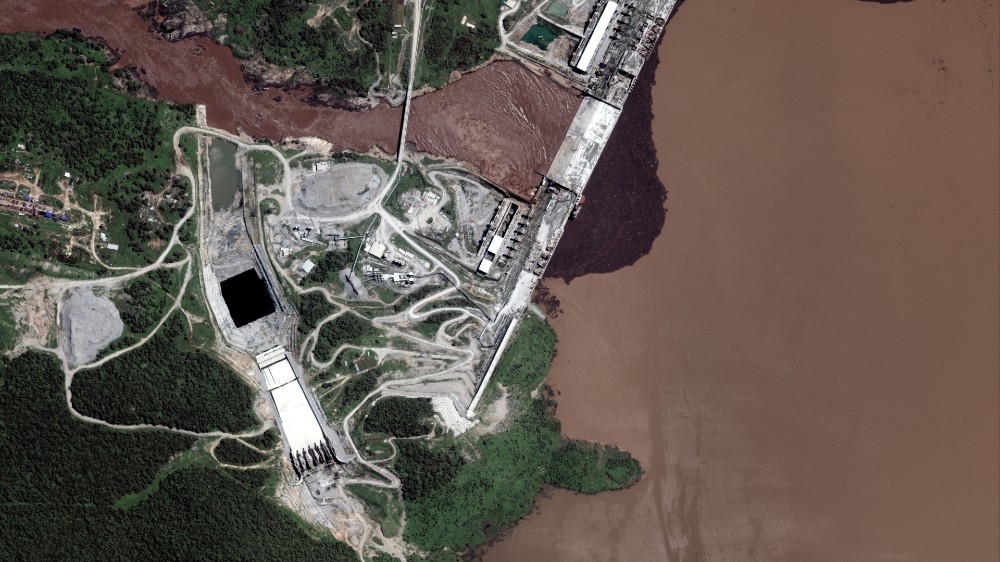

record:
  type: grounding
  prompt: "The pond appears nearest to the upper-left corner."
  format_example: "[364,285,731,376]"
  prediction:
[208,138,242,210]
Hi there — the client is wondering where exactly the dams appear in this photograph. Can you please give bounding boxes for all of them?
[467,0,675,419]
